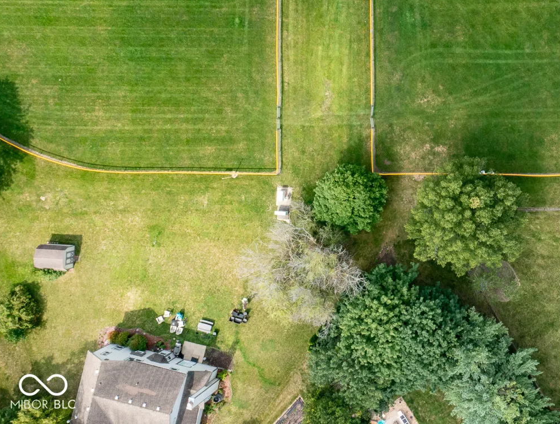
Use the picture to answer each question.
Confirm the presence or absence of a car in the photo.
No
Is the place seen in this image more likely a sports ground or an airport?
sports ground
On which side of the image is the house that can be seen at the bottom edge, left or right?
left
